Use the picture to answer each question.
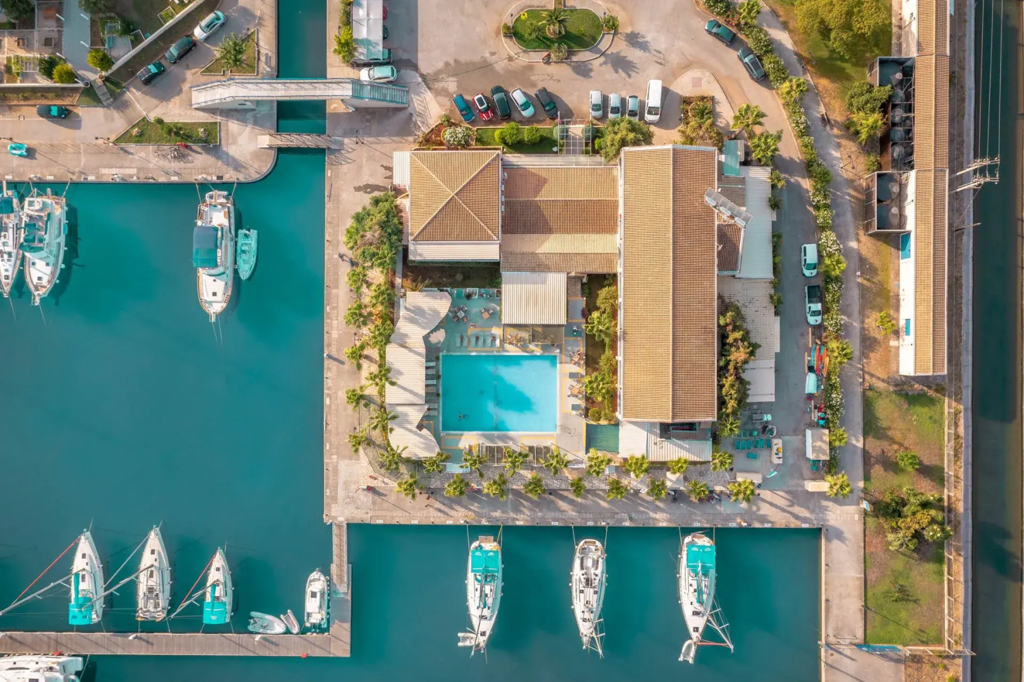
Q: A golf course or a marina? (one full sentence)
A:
This looks like a marina.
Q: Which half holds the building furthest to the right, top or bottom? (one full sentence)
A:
The building furthest to the right sits in the top half of the picture.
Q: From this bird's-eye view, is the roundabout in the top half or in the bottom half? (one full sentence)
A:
Seen from above, the roundabout lies in the top half of the view.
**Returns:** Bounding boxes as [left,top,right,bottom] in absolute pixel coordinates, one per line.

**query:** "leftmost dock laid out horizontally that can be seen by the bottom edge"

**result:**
[0,588,351,657]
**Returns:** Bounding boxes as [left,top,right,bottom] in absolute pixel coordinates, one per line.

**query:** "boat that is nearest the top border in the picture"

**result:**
[7,143,28,156]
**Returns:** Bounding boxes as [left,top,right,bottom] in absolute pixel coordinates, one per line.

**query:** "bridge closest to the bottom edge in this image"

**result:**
[258,132,344,148]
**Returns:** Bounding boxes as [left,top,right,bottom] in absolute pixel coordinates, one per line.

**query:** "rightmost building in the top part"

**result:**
[899,0,951,376]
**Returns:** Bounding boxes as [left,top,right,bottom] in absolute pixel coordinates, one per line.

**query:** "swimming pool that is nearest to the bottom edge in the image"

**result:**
[439,349,561,437]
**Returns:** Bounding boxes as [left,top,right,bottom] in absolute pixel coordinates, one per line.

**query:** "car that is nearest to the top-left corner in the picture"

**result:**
[36,103,70,120]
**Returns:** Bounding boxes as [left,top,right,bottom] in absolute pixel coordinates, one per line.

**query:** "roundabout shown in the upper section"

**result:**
[502,0,615,62]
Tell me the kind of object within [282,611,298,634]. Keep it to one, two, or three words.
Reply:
boat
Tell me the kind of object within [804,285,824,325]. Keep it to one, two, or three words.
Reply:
vehicle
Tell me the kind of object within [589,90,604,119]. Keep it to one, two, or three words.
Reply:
car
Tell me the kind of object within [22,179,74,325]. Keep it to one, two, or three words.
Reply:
boat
